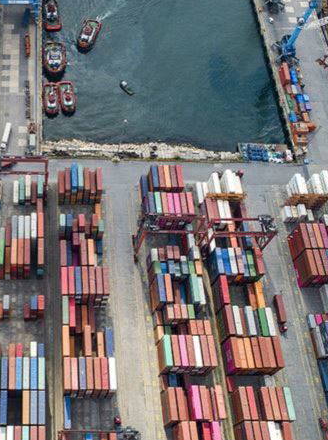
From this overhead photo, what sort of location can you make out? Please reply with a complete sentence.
This looks like a port.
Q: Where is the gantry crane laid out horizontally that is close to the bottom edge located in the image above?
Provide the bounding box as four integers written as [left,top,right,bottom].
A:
[53,424,151,440]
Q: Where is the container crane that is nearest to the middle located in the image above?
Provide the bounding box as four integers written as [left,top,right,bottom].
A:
[132,211,212,258]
